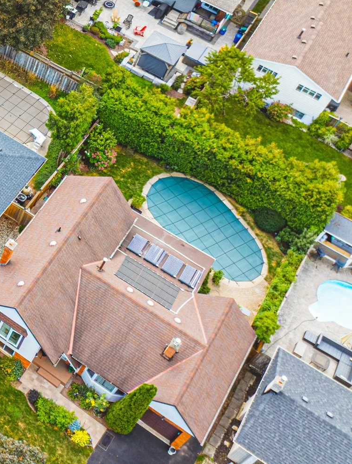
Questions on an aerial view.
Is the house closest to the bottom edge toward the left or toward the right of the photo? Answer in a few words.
right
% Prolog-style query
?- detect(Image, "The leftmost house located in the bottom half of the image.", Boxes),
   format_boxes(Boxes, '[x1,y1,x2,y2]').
[0,175,257,453]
